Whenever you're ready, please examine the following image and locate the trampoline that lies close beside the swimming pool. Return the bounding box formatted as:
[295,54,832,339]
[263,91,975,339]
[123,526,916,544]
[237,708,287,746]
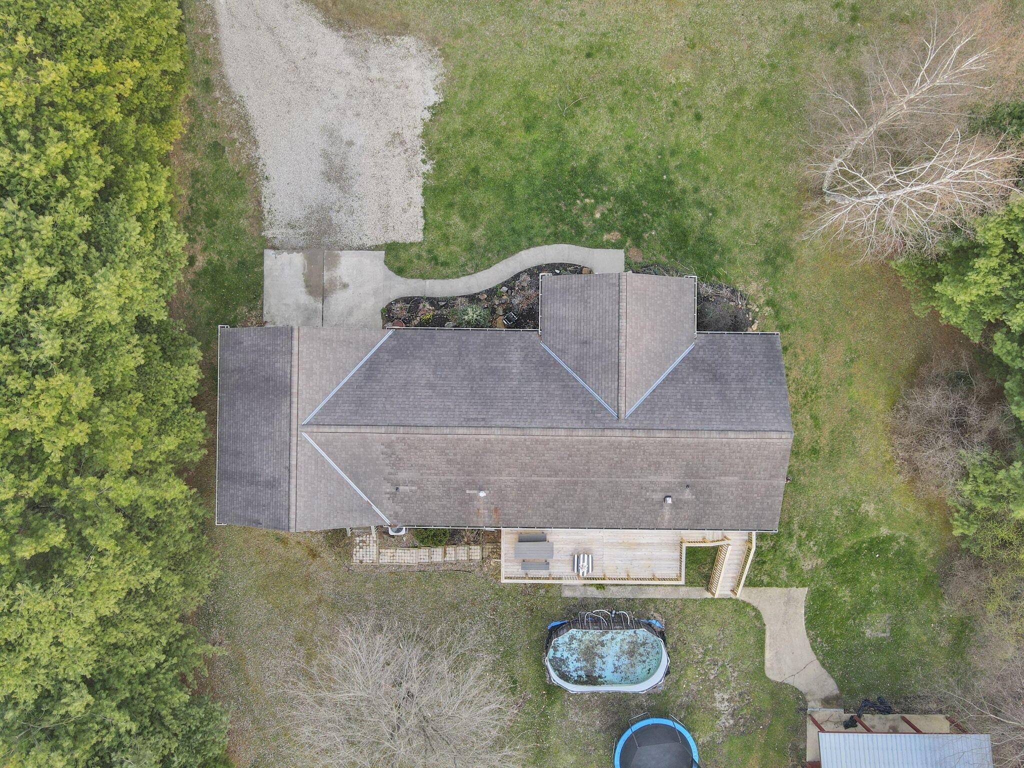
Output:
[613,712,705,768]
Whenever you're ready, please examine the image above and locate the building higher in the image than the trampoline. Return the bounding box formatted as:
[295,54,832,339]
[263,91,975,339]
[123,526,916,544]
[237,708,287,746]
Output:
[217,272,793,534]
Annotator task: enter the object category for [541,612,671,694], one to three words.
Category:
swimming pool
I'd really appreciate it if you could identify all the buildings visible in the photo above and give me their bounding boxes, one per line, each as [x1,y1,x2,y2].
[806,714,997,768]
[217,272,793,534]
